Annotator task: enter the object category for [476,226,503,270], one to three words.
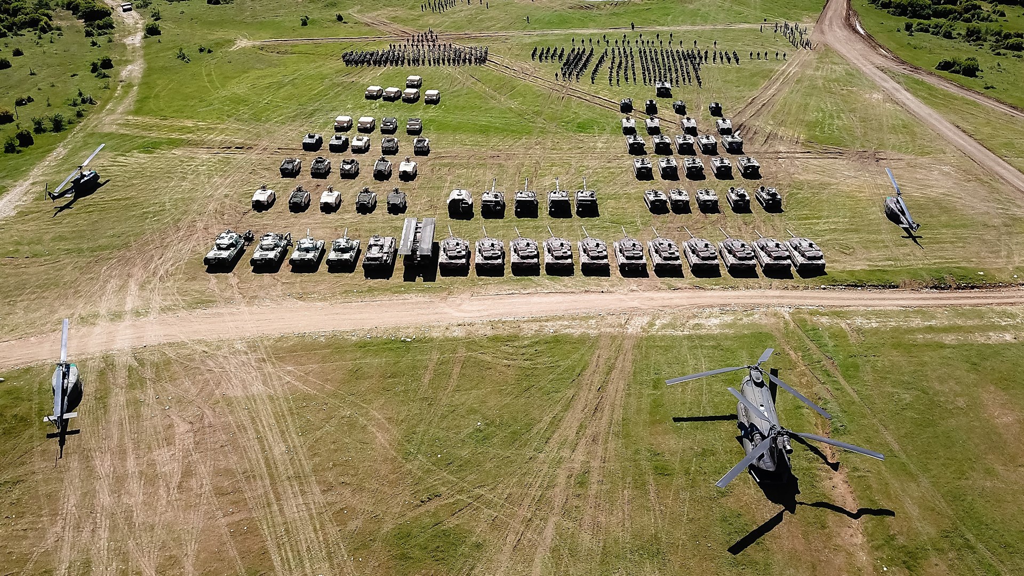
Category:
vehicle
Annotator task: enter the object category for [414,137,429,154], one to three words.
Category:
car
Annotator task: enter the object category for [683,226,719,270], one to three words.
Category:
vehicle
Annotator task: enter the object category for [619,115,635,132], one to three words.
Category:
car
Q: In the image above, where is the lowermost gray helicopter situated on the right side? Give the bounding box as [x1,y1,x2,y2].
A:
[668,342,883,492]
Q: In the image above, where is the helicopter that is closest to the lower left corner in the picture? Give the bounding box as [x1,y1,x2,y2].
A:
[42,321,87,435]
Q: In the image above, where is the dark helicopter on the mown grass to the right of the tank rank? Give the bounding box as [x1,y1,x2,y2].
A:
[878,170,920,235]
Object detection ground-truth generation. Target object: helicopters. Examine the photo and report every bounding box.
[878,170,920,235]
[44,148,107,206]
[668,342,883,492]
[42,321,87,435]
